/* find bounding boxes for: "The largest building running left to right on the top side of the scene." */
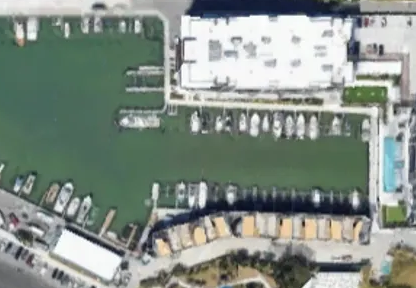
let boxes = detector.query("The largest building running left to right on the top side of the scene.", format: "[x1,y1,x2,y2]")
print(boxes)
[179,16,353,96]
